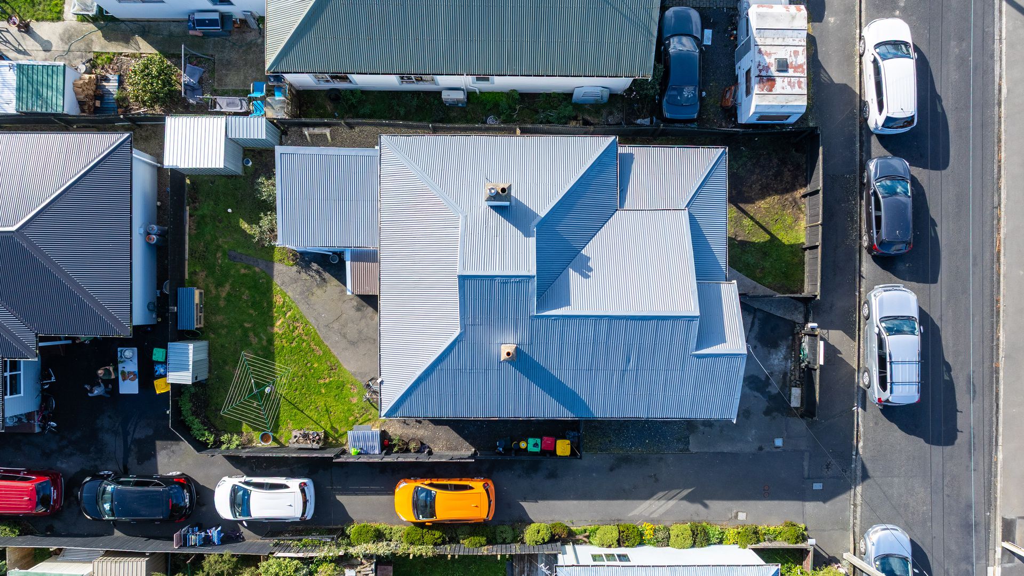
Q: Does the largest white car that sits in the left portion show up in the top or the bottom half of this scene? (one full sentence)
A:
The largest white car that sits in the left portion is in the bottom half of the image.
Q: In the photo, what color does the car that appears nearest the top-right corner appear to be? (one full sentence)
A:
From above, the car that appears nearest the top-right corner appears white.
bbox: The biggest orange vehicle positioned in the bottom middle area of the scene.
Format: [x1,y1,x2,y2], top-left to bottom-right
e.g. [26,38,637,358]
[395,474,495,529]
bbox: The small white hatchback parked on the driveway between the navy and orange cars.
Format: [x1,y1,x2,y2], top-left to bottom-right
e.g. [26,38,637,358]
[215,473,317,528]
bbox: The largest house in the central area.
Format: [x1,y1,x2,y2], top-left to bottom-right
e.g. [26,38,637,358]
[279,133,746,420]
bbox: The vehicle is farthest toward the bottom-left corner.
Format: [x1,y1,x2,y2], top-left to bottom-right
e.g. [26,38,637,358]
[0,465,70,517]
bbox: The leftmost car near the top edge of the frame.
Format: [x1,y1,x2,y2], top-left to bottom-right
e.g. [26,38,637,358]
[656,7,711,123]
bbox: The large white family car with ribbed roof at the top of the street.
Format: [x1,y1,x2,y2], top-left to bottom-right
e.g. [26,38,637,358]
[855,19,920,137]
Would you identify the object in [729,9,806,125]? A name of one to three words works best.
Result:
camper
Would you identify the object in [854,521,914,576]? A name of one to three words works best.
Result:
car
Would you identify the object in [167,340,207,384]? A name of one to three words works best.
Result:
shed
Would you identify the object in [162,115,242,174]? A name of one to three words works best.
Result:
shed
